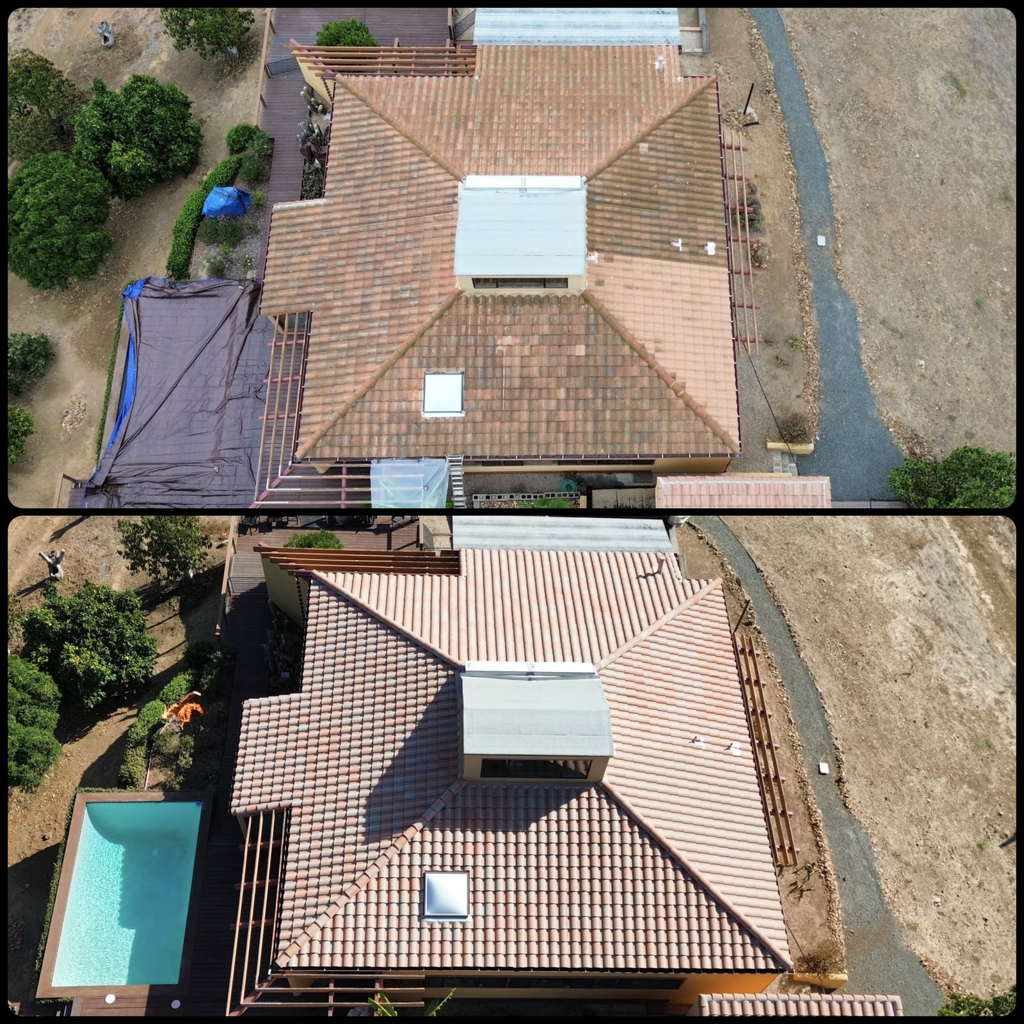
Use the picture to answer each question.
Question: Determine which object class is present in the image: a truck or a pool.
pool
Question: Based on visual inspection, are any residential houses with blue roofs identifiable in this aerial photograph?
No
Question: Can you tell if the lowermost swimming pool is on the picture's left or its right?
left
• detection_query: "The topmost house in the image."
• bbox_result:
[254,41,747,485]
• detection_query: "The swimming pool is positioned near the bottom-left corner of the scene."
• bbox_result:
[36,792,213,999]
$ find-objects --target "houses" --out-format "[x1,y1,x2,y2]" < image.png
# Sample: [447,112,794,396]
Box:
[222,543,802,1016]
[254,41,747,485]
